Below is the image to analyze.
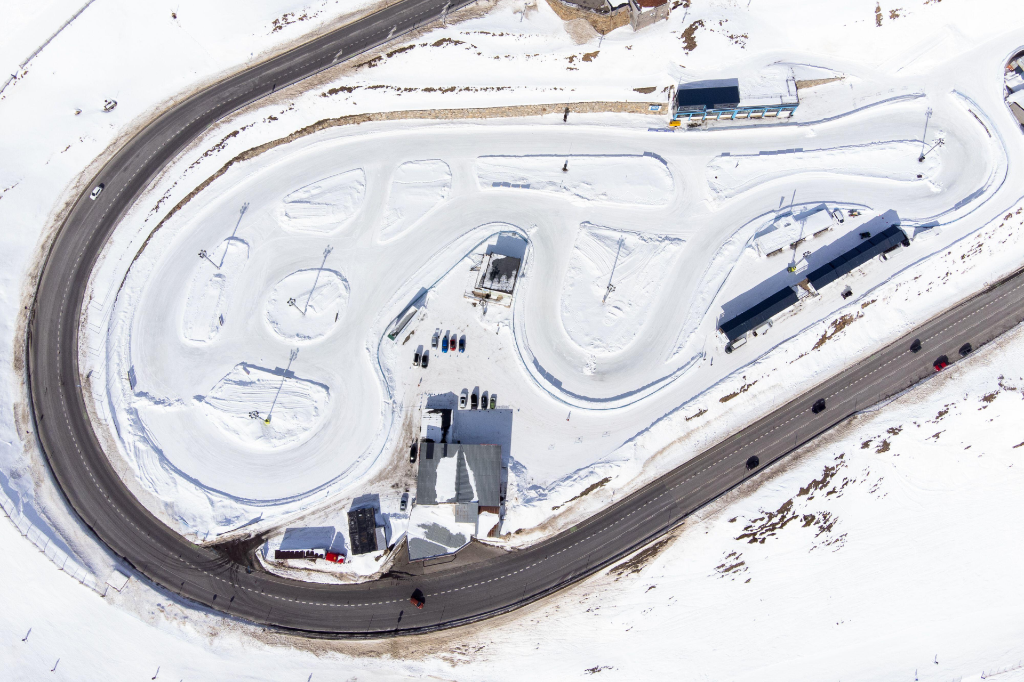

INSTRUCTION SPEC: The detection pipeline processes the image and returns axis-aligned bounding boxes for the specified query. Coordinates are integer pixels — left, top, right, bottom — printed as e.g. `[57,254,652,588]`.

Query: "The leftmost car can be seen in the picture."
[90,185,104,199]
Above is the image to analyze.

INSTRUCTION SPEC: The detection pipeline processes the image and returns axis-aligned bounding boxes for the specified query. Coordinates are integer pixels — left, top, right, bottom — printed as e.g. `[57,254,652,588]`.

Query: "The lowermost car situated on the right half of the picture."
[744,457,760,469]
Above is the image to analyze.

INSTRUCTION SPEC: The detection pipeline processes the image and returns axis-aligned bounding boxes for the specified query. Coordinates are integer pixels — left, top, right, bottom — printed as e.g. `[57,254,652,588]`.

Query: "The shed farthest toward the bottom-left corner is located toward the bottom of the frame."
[348,508,388,555]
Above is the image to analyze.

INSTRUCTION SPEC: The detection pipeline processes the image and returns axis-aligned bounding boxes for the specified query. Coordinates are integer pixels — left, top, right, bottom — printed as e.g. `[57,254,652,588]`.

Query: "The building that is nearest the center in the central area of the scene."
[463,252,520,308]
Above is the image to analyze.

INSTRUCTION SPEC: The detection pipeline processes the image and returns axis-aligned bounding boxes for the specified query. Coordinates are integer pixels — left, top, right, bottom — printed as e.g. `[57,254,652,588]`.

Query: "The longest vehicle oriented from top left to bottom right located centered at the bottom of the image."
[409,595,427,610]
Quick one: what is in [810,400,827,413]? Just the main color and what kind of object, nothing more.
black vehicle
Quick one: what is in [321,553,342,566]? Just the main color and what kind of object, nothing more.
red vehicle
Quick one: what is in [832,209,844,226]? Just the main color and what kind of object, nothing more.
white vehicle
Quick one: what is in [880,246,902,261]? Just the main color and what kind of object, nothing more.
white car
